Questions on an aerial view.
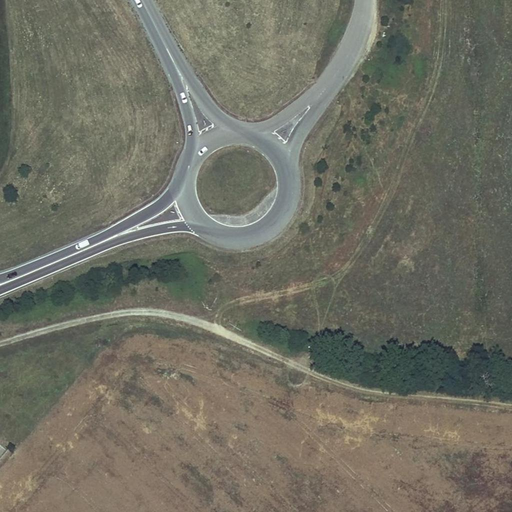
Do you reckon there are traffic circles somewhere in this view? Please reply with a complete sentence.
Yes, you can see a traffic circle in this photo.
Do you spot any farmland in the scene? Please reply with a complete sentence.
Yes, some farmland is visible.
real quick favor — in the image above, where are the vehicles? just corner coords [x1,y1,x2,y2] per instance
[187,125,192,136]
[180,92,186,103]
[135,0,142,8]
[6,272,17,278]
[198,146,208,156]
[76,240,90,250]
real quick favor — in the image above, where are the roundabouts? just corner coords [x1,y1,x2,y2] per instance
[169,120,301,250]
